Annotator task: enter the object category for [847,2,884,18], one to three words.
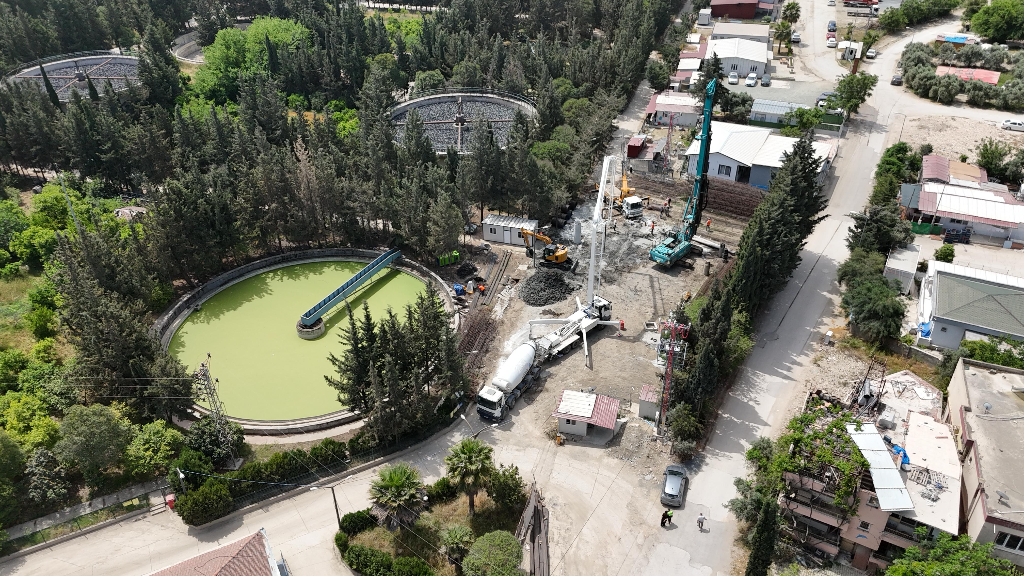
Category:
vehicle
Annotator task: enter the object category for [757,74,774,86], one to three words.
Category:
vehicle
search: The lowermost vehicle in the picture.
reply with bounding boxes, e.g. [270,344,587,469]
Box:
[663,461,692,509]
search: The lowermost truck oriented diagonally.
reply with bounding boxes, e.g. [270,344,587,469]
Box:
[471,331,547,423]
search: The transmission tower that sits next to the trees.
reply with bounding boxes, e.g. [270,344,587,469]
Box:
[187,347,252,473]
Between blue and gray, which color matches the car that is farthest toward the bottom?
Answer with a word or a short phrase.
gray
